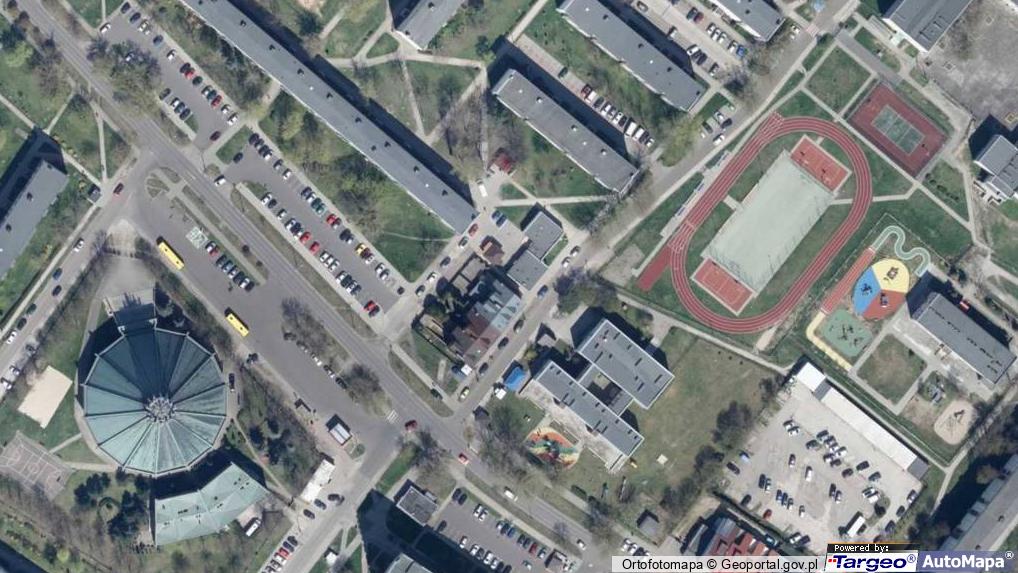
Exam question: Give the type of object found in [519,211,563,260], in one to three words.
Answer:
building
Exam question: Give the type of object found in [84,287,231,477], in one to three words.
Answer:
church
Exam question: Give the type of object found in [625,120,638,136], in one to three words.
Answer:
vehicle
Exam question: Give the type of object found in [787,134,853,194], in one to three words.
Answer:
sports court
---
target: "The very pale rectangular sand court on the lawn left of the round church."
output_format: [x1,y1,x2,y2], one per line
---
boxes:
[18,366,73,429]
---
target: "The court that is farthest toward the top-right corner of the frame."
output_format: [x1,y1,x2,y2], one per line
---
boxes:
[848,82,948,178]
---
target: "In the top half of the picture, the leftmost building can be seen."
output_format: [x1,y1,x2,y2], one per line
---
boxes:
[0,159,72,284]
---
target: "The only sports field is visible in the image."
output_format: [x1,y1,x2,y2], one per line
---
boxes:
[703,150,833,297]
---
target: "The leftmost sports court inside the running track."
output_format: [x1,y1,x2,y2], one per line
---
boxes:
[690,255,756,315]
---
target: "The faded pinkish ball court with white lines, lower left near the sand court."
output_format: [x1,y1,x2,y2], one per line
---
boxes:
[0,433,72,500]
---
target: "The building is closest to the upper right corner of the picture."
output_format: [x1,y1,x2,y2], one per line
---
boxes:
[886,0,969,53]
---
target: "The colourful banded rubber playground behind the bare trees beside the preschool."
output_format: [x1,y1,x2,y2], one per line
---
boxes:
[523,424,583,473]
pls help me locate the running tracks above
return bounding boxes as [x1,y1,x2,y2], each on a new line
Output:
[636,110,873,334]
